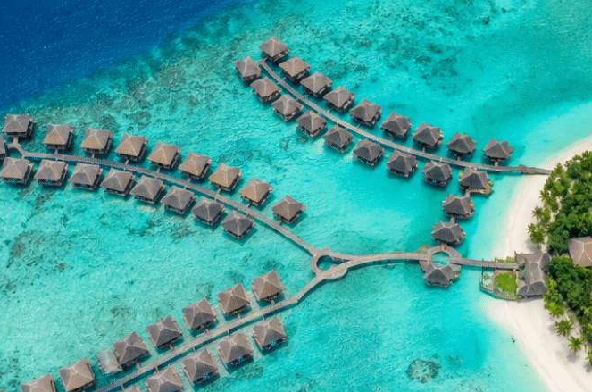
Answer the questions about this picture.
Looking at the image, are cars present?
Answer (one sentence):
No, I can't see a single car in this photo.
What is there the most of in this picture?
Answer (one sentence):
For the most part, this view shows water.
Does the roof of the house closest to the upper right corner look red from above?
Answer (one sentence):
No, the roof of the house closest to the upper right corner is actually gray.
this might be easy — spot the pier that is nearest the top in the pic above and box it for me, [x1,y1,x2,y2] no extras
[257,60,552,177]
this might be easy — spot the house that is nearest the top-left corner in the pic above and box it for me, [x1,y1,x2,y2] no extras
[5,117,38,142]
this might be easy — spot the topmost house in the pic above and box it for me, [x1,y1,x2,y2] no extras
[260,40,291,67]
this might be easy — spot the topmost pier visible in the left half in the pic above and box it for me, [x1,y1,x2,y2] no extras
[8,139,319,256]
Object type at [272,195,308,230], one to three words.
house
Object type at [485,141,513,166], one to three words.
house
